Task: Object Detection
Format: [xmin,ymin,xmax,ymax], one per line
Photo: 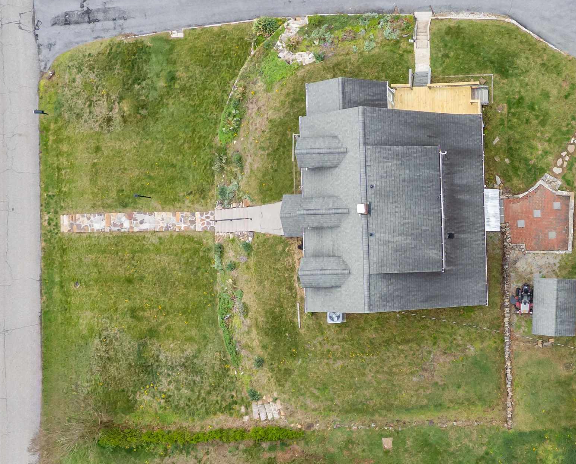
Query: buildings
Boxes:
[532,278,576,337]
[279,77,501,315]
